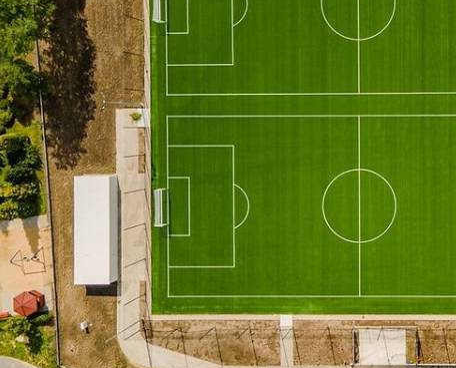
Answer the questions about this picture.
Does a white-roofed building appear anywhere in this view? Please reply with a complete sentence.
Yes, a white-roofed building appears in the view.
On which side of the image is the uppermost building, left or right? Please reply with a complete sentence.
The uppermost building is on the left side of the image.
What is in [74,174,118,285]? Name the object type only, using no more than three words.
building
